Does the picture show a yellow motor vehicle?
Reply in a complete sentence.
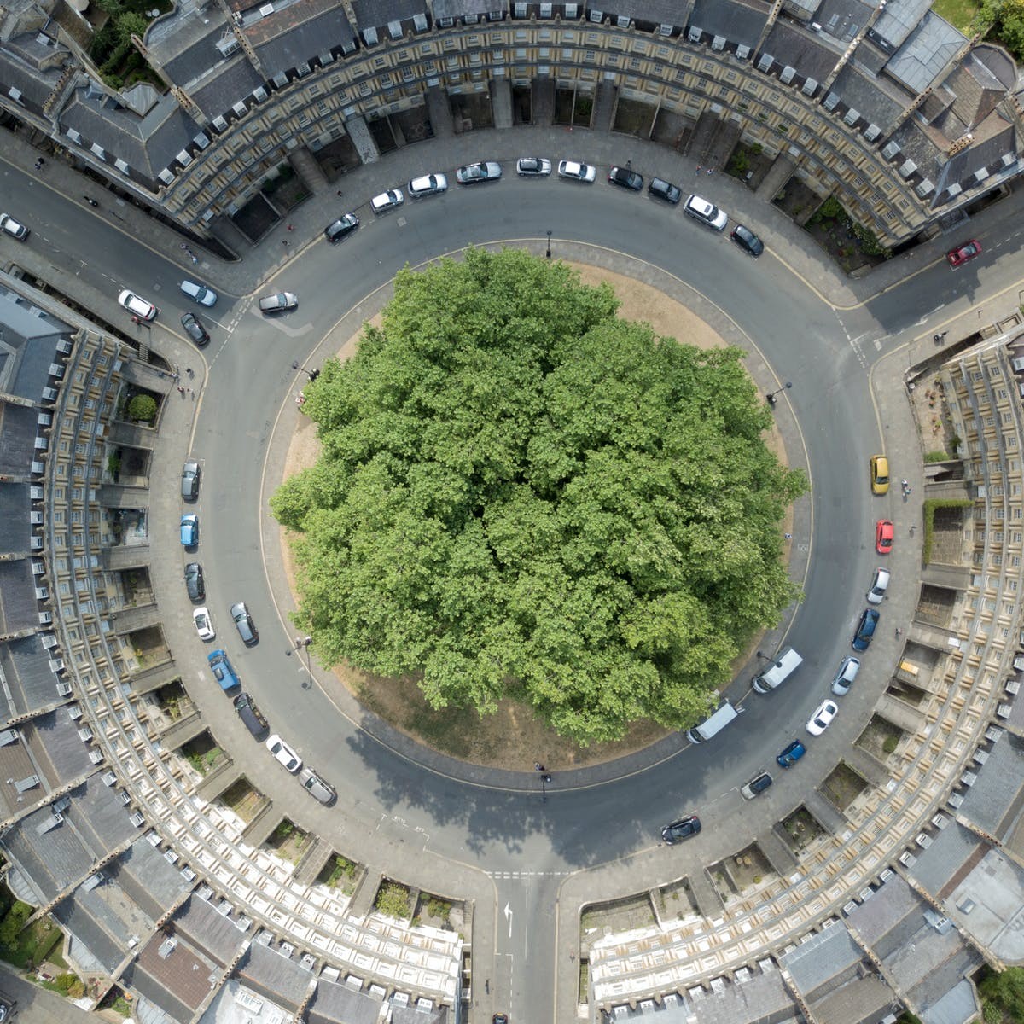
Yes, the frame does contain a yellow motor vehicle.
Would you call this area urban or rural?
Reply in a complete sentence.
The land in this view is best described as urban.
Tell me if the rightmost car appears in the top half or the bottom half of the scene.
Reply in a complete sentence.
The rightmost car is in the top half of the image.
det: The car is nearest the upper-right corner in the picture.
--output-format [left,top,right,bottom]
[944,240,982,268]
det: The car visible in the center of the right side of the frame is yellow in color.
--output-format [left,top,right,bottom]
[868,456,891,493]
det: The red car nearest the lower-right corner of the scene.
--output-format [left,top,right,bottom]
[874,519,895,554]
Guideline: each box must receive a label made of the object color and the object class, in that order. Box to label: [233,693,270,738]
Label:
gray van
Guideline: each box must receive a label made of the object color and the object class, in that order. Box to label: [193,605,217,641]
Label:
white car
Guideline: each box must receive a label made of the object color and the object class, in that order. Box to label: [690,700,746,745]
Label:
white van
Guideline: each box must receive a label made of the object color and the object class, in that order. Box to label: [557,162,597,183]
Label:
white car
